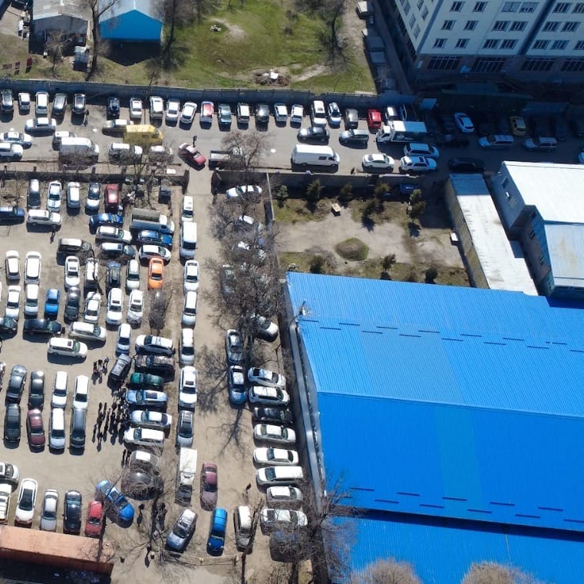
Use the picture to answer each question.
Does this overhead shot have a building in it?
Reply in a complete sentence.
Yes, the frame does contain a building.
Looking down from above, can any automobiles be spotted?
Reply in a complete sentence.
Yes, the picture does show an automobile.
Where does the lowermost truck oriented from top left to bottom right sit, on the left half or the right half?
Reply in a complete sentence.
The lowermost truck oriented from top left to bottom right is on the left side of the image.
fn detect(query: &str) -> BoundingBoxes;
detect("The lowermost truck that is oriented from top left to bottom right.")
[94,477,137,526]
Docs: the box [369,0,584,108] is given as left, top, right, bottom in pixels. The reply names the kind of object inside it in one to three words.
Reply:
building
